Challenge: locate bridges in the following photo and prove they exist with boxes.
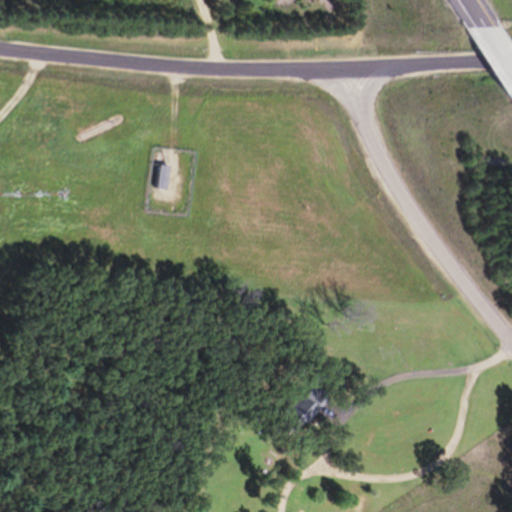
[463,20,512,101]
